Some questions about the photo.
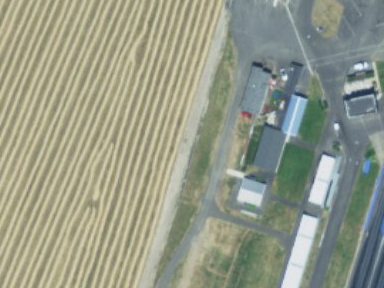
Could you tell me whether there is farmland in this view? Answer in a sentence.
Yes, there's farmland in this view.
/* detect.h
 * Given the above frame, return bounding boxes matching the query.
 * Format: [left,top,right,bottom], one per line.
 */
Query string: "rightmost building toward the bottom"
[310,154,336,204]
